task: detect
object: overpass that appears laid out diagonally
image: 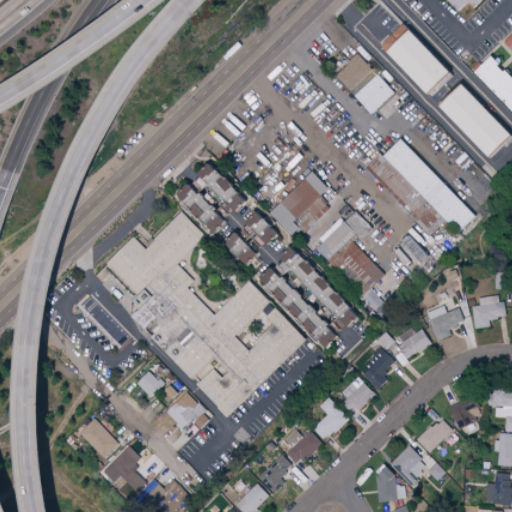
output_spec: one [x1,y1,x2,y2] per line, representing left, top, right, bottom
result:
[0,0,166,112]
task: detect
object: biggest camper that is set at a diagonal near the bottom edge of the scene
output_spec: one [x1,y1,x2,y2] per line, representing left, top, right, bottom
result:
[356,467,372,487]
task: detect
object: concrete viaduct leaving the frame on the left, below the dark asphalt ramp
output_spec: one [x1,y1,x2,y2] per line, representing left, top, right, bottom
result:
[0,162,20,232]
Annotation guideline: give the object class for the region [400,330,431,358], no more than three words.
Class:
house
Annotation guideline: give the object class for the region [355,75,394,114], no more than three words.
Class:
building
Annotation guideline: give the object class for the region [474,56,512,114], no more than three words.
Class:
building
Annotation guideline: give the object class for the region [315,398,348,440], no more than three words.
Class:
house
